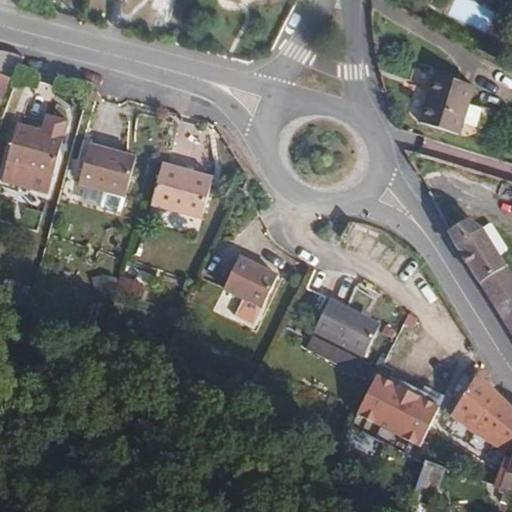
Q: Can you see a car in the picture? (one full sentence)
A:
Yes, there's a car here.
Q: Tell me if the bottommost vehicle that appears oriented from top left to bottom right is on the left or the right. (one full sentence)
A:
The bottommost vehicle that appears oriented from top left to bottom right is on the right side of the image.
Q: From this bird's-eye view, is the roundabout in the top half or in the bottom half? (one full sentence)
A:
The top half of the photo is where the roundabout is.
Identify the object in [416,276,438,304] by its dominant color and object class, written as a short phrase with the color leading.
white vehicle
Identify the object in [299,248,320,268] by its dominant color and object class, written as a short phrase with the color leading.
white car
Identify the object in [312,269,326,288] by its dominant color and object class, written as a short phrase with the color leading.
white vehicle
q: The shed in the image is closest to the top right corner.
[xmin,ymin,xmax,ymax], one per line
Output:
[448,0,488,31]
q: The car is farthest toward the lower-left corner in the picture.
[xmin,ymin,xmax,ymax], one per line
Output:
[206,253,222,274]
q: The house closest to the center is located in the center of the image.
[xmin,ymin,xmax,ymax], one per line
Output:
[224,254,278,308]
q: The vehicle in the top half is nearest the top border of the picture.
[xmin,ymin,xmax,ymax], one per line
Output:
[284,10,302,35]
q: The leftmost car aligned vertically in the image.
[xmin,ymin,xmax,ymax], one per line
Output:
[32,96,44,118]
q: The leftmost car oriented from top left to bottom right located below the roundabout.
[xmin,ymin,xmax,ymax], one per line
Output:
[266,250,287,270]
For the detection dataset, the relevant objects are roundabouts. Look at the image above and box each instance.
[279,114,369,192]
